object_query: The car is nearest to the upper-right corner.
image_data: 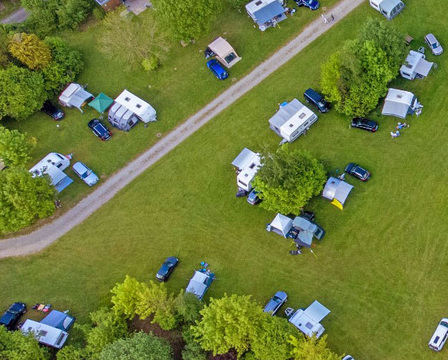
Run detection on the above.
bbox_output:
[426,34,444,56]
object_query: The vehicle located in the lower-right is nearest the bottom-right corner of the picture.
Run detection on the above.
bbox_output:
[428,320,448,353]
